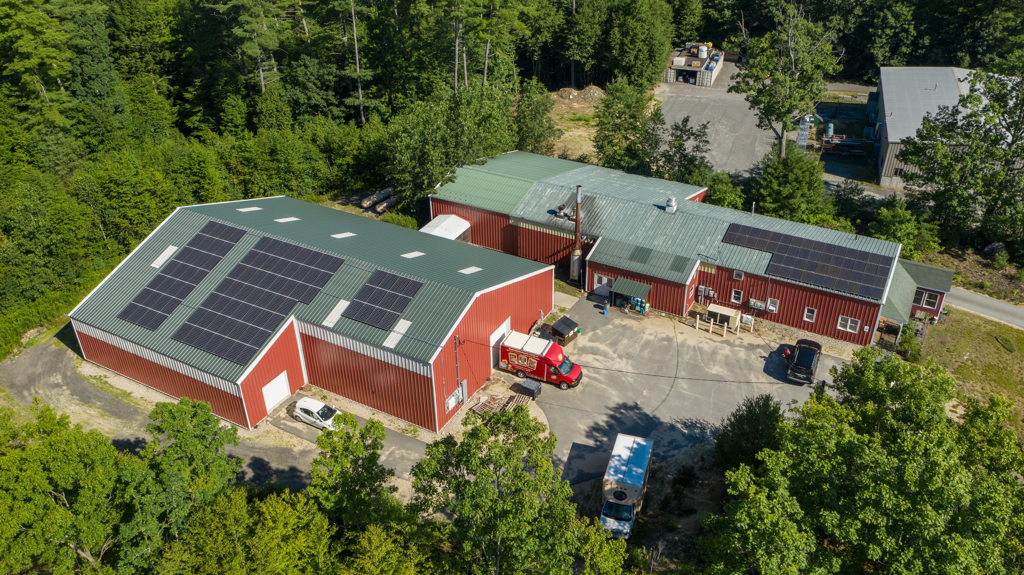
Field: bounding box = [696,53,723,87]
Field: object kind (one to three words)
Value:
shipping container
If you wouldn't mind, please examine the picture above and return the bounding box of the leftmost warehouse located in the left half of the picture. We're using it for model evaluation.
[66,195,556,435]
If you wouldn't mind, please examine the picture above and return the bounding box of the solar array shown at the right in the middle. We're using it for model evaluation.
[723,222,894,299]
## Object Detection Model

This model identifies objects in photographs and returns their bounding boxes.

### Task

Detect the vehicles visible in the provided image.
[789,342,822,384]
[598,435,653,545]
[292,398,341,428]
[500,331,583,389]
